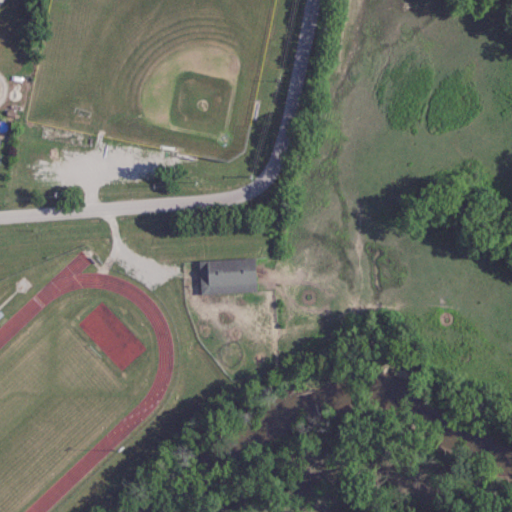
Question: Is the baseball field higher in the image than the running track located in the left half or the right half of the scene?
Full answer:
It is on the left.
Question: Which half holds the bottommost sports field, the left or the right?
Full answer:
You can find the bottommost sports field on the left side of the picture.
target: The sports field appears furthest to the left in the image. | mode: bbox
[0,343,101,510]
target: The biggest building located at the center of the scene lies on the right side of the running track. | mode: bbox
[200,259,258,294]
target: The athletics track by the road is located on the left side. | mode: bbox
[0,256,174,512]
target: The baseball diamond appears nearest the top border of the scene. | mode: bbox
[28,0,277,162]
